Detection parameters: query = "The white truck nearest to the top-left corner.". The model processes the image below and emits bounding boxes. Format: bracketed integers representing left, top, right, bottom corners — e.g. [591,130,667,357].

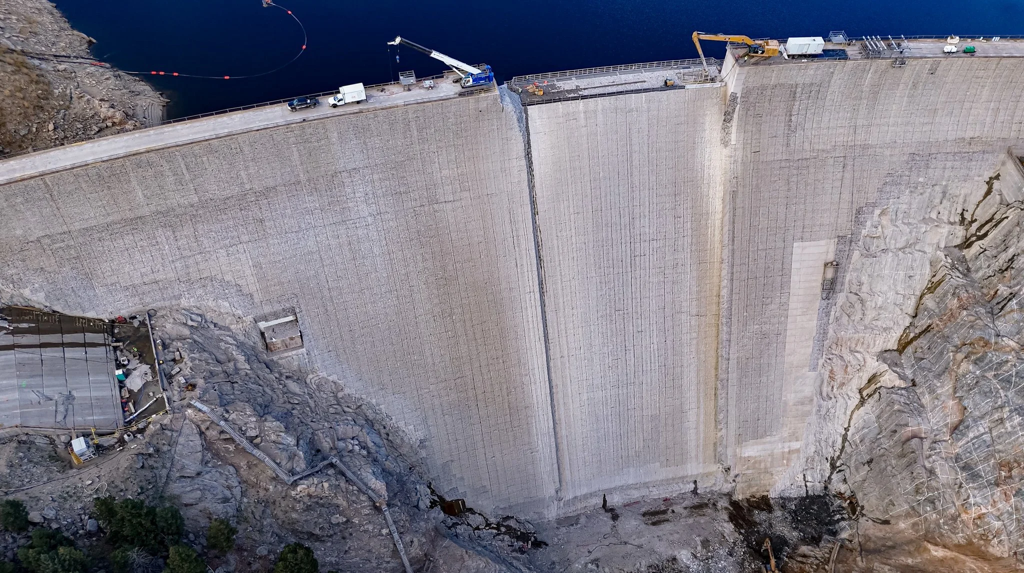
[328,81,373,106]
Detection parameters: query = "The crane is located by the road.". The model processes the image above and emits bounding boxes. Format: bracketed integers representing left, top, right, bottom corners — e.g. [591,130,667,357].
[388,38,495,90]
